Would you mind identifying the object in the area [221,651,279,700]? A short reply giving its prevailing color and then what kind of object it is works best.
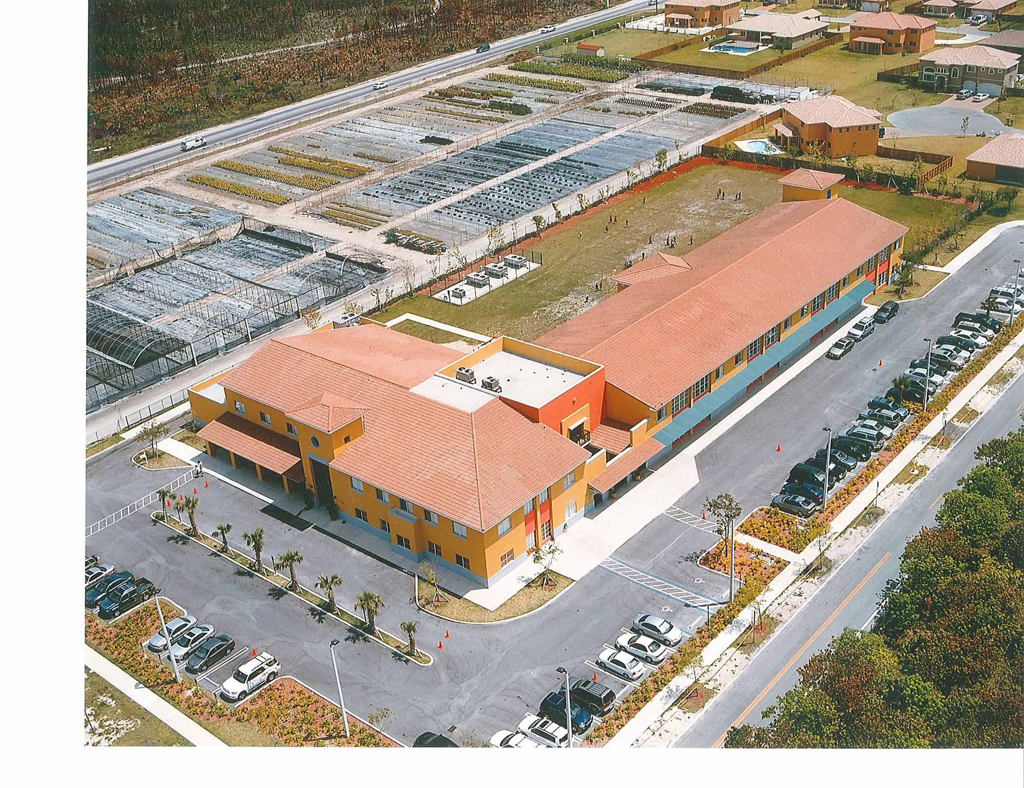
white car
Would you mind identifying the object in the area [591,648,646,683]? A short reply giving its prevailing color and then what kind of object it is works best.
white car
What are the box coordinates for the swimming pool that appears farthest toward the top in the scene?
[698,40,773,56]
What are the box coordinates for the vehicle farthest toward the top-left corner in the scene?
[180,136,206,149]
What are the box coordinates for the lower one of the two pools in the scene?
[733,138,789,154]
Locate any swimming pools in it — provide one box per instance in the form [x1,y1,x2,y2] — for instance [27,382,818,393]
[733,138,789,154]
[698,40,773,56]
